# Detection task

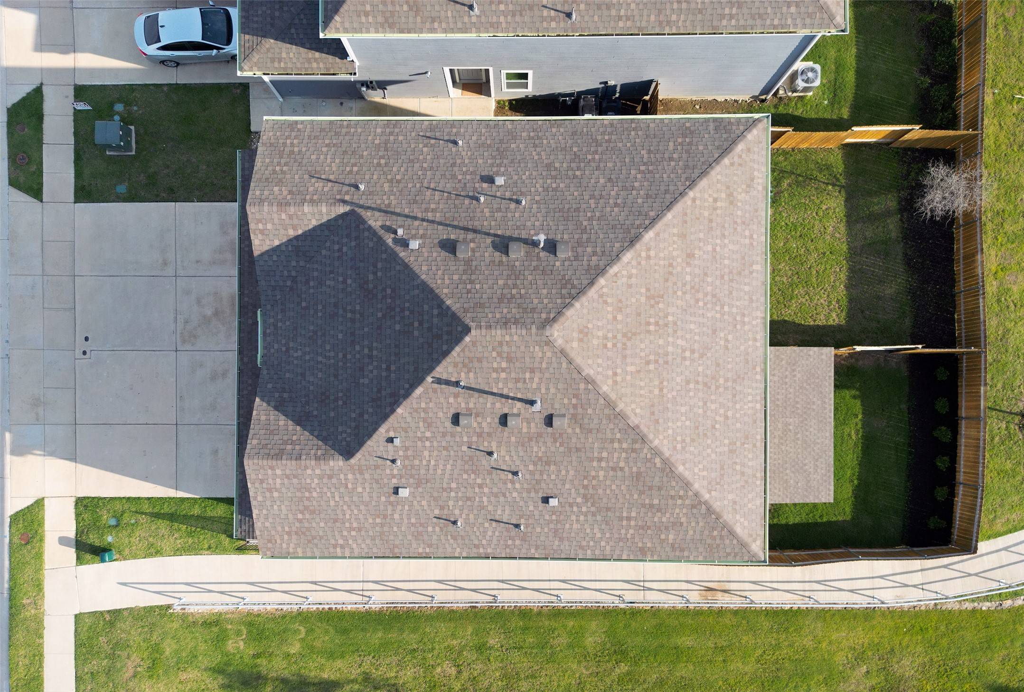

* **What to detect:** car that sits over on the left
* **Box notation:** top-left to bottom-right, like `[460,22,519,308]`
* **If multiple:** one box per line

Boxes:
[132,2,237,66]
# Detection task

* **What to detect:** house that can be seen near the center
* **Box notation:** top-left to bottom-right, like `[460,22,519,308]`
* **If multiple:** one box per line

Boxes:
[234,114,834,565]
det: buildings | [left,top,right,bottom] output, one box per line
[237,0,849,101]
[234,114,834,565]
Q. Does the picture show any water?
No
